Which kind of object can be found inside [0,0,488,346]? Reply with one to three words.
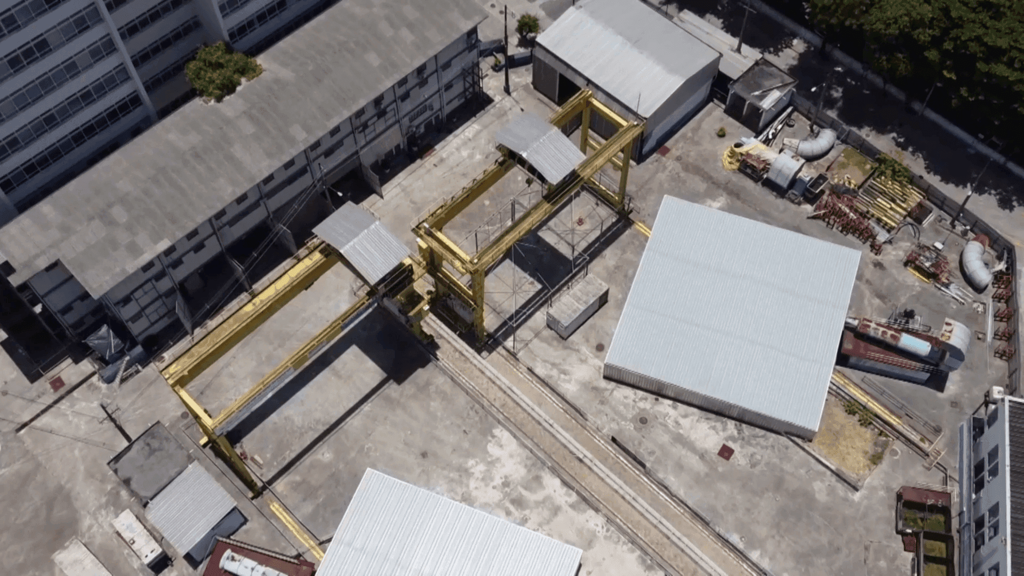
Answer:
building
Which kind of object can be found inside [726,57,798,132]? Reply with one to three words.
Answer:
shed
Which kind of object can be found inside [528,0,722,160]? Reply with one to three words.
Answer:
hangar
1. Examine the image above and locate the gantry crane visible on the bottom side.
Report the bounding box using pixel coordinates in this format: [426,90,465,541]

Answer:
[154,238,441,497]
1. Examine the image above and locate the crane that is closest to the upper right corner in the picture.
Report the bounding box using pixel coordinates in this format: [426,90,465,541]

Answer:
[406,85,646,345]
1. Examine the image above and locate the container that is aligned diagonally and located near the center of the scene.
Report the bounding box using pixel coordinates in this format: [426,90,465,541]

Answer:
[547,274,608,339]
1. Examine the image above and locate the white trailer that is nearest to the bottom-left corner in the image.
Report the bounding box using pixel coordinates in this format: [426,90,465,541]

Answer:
[53,539,107,576]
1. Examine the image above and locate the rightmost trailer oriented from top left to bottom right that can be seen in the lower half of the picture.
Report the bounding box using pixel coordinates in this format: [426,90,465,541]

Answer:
[111,508,170,574]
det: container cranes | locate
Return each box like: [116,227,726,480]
[406,85,646,345]
[154,238,441,497]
